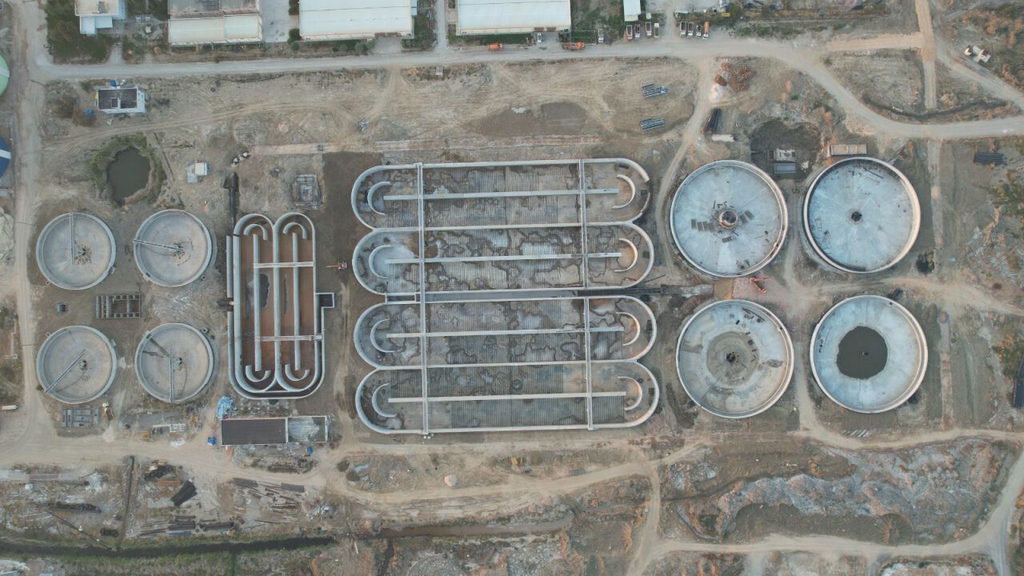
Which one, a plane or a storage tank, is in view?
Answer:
storage tank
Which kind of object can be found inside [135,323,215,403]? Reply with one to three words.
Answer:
storage tank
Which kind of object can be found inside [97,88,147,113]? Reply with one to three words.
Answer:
house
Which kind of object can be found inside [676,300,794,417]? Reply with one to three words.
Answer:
storage tank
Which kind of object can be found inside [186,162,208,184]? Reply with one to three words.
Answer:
building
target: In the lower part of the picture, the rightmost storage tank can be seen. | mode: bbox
[809,295,928,412]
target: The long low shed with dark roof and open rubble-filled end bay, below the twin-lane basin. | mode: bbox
[221,414,330,446]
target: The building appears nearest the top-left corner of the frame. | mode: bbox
[74,0,128,38]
